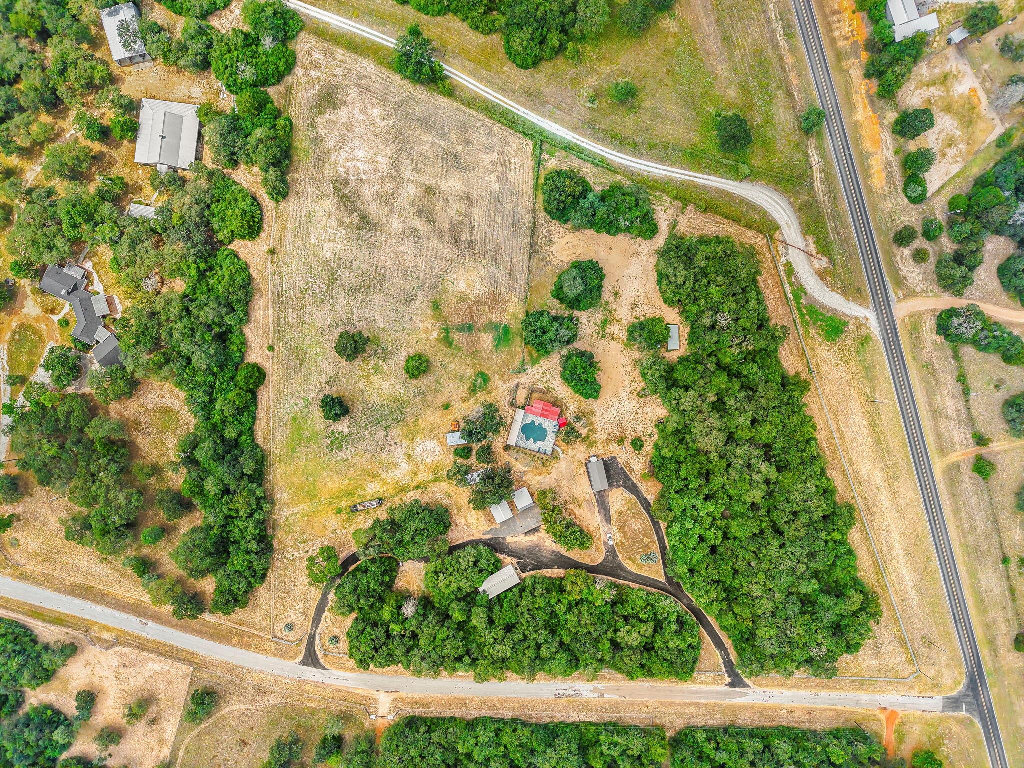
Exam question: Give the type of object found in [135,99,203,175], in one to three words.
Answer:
house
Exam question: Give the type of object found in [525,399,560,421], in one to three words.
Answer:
building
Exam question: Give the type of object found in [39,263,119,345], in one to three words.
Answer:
house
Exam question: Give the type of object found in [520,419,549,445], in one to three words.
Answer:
swimming pool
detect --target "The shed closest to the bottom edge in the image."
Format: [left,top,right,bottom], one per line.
[478,561,521,600]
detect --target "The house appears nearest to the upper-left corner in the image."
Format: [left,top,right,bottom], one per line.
[101,3,153,70]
